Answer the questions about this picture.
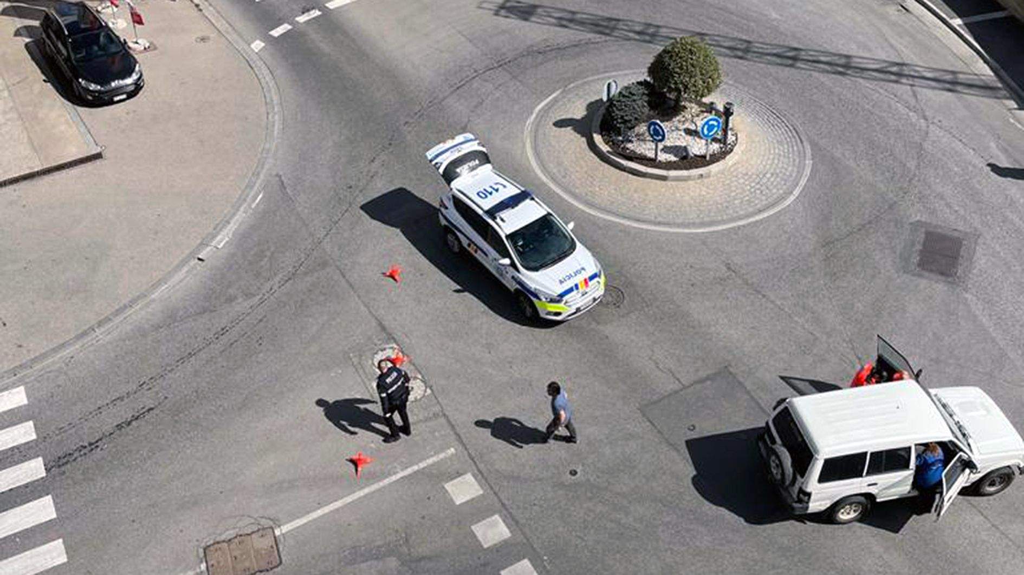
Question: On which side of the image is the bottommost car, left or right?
right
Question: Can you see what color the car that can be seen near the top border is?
black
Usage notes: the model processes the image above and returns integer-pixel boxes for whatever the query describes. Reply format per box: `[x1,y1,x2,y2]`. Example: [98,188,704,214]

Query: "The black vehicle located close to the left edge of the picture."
[37,0,151,109]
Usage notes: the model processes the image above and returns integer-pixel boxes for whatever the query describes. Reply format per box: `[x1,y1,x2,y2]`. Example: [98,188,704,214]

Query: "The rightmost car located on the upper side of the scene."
[423,130,607,327]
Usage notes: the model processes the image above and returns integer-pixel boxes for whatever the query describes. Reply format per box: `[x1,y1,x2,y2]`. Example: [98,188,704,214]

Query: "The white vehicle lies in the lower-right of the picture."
[765,337,1024,523]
